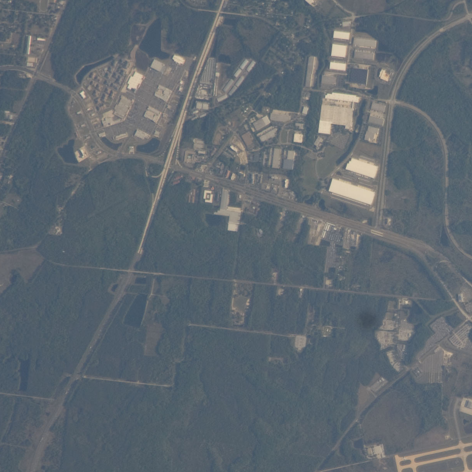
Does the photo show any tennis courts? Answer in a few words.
No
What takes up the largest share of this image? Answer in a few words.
trees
